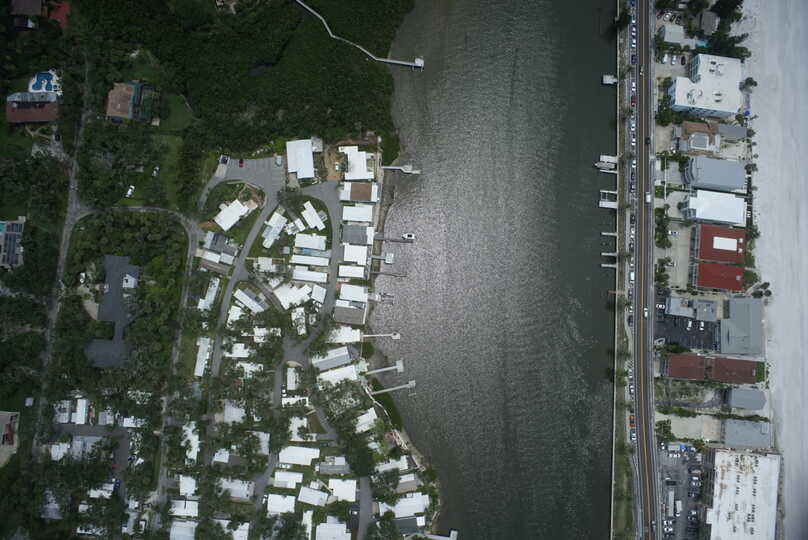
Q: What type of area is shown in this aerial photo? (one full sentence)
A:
It's a residential area.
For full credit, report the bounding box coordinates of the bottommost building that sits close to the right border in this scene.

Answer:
[694,444,780,540]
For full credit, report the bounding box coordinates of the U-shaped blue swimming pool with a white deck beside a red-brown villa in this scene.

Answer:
[28,71,62,94]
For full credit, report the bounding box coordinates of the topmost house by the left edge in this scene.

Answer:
[12,0,51,29]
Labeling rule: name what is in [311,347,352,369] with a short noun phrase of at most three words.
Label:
house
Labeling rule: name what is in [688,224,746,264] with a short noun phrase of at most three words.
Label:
building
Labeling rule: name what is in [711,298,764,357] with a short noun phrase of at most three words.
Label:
building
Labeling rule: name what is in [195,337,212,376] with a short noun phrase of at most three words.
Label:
house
